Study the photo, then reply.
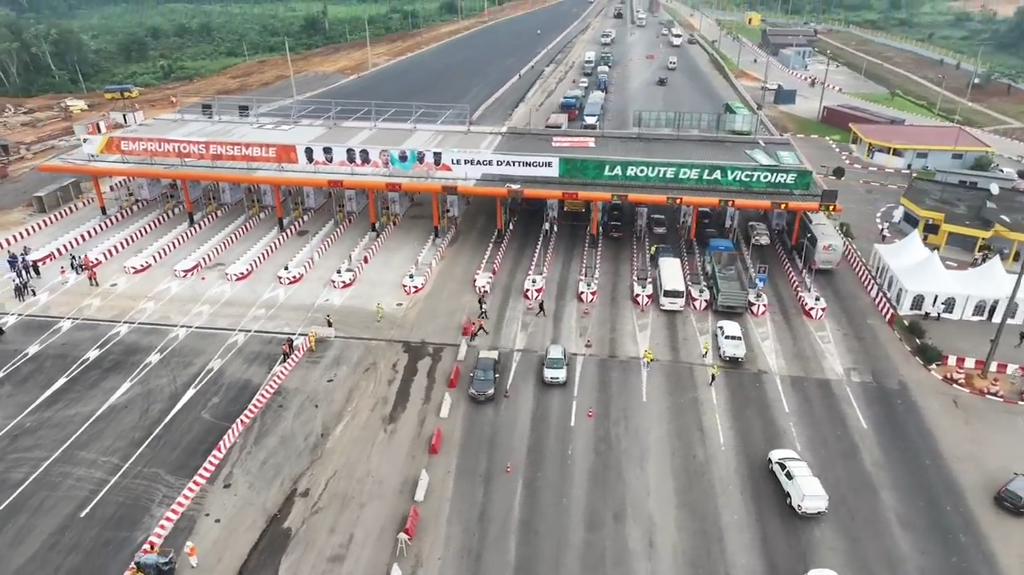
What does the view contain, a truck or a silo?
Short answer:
truck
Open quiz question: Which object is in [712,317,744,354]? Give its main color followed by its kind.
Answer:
white truck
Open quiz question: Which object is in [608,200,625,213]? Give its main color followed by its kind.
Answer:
black vehicle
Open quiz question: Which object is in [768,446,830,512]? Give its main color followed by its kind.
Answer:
white truck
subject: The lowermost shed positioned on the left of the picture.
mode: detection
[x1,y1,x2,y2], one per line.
[19,175,88,217]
